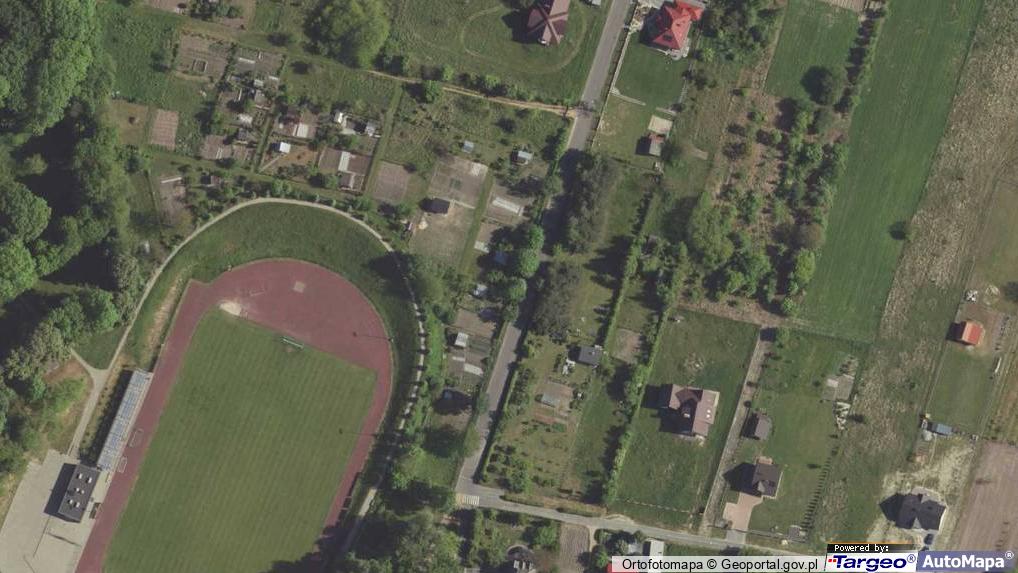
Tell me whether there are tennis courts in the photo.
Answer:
No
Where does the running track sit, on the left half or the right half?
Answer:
left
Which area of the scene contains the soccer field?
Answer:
bottom left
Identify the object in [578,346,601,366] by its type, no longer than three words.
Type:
house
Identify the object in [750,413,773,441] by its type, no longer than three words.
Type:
shed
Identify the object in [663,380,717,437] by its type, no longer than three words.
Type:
house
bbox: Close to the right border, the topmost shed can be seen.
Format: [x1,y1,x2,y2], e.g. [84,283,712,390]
[954,320,980,346]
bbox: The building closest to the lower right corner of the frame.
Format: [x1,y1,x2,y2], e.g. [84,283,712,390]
[895,491,947,533]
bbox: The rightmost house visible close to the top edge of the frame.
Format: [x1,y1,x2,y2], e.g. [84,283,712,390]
[651,0,701,50]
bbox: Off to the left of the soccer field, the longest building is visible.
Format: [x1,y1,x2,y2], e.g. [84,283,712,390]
[58,465,99,521]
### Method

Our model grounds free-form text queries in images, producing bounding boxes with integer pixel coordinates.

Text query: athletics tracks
[76,259,394,573]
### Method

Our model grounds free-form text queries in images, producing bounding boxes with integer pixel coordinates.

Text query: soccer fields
[105,308,377,573]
